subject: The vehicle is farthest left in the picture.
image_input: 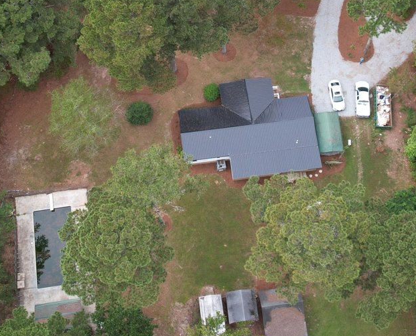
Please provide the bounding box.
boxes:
[328,81,346,112]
